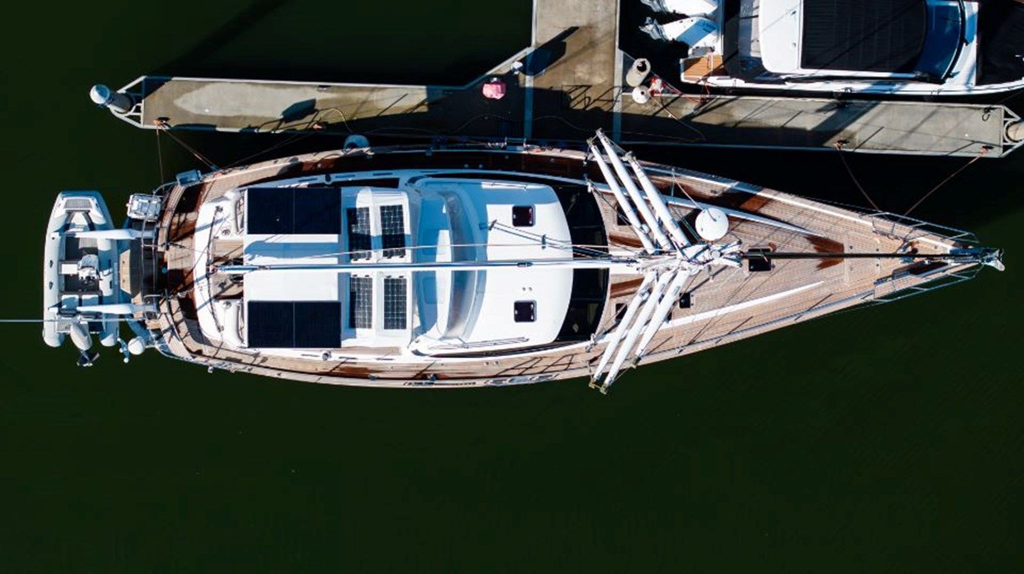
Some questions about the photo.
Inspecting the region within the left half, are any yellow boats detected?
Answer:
No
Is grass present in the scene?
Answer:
No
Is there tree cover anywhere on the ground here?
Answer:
No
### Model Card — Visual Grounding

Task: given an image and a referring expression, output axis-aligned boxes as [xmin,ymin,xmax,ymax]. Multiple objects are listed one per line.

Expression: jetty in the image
[111,0,1024,158]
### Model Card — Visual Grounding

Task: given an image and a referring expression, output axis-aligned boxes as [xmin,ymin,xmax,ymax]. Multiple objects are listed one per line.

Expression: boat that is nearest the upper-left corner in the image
[44,189,120,368]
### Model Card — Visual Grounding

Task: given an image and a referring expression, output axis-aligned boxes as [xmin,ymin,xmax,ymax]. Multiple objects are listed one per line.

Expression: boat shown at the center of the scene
[50,124,1005,398]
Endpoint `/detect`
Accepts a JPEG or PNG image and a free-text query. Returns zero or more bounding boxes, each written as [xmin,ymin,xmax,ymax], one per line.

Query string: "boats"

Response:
[44,189,120,368]
[644,0,1024,95]
[50,124,1005,398]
